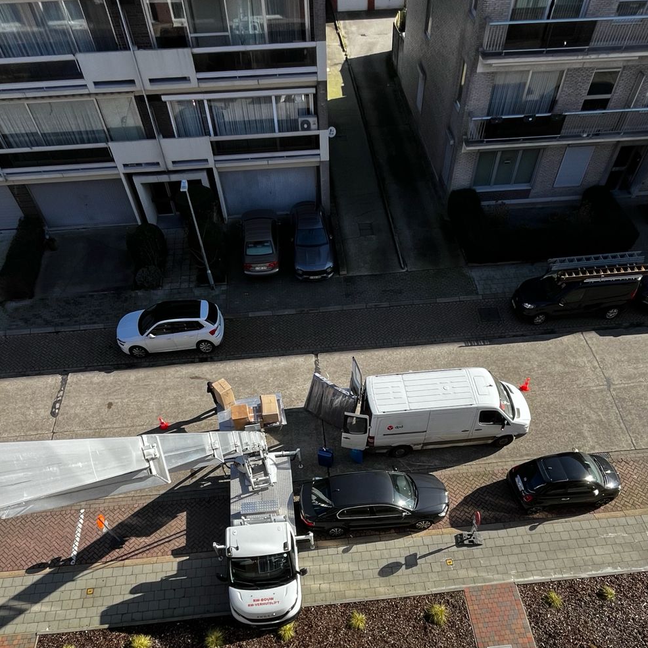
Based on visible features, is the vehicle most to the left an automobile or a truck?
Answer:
automobile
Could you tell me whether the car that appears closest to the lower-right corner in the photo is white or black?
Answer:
black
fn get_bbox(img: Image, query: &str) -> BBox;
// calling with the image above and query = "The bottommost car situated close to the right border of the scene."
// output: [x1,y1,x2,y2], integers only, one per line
[509,443,622,507]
